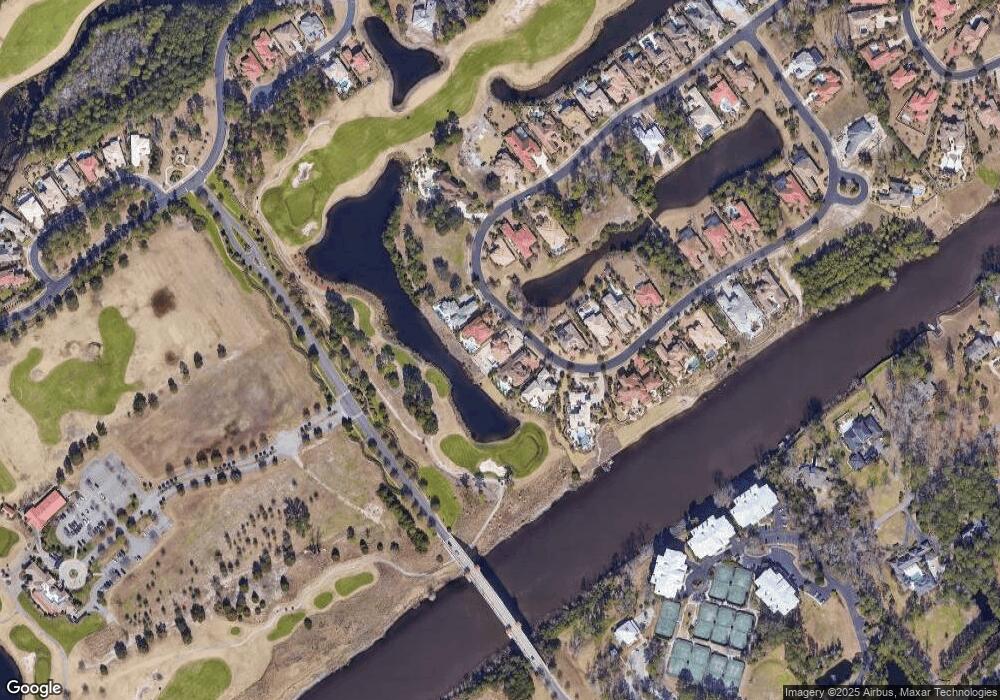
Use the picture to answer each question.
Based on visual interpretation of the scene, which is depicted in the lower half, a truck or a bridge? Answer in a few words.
bridge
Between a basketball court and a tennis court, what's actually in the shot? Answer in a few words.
tennis court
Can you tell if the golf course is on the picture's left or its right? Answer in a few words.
left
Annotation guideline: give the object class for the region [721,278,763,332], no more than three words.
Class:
house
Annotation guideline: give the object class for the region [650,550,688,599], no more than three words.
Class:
building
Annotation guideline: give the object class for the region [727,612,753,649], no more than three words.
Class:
tennis court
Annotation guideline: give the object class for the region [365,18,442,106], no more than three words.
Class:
pond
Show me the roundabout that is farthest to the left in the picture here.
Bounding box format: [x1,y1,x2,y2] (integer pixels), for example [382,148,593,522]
[58,558,88,590]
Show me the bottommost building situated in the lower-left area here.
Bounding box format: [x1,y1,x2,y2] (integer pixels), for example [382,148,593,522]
[27,563,77,615]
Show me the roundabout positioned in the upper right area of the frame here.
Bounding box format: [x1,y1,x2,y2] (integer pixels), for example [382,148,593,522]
[830,168,868,206]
